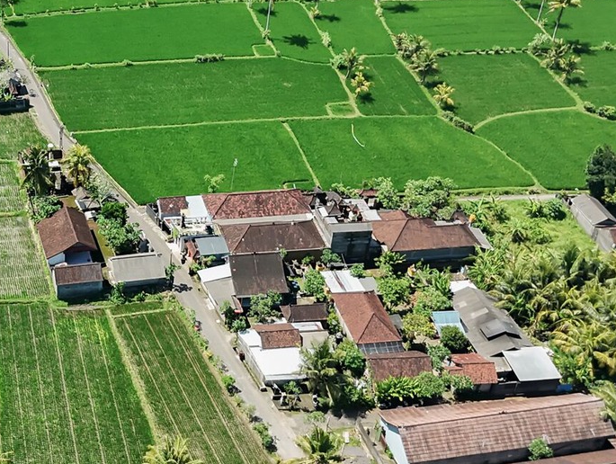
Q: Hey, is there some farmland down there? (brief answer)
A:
Yes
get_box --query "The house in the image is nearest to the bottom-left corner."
[55,262,102,298]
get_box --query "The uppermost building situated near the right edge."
[563,192,616,244]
